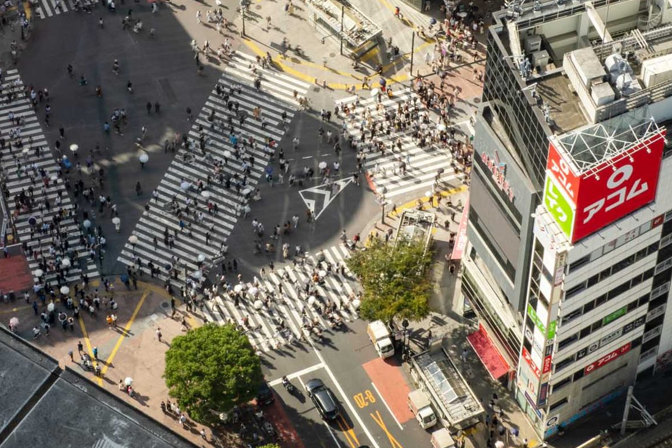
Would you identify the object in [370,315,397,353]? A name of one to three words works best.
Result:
truck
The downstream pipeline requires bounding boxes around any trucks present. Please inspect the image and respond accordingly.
[409,384,441,423]
[434,423,458,448]
[370,315,397,353]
